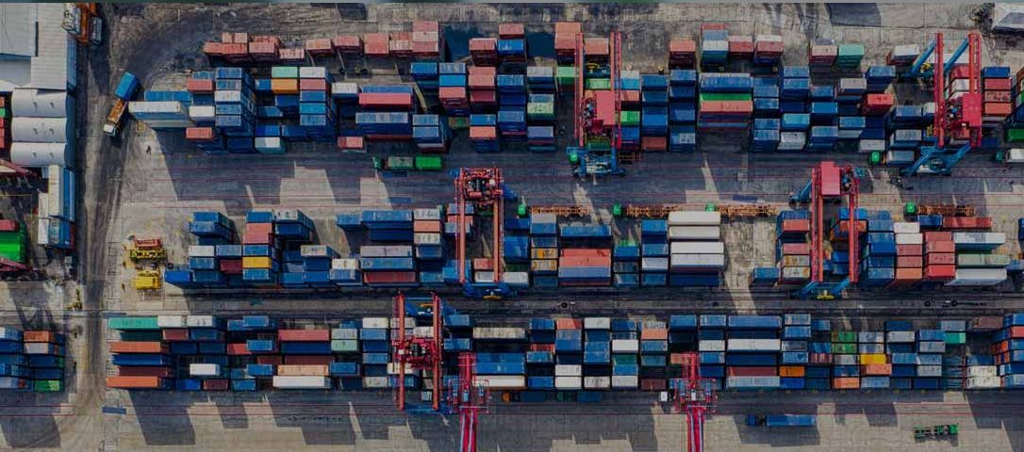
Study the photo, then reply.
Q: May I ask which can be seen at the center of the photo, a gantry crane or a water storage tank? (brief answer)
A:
gantry crane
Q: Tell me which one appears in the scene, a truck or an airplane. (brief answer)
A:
truck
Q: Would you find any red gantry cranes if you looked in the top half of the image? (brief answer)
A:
Yes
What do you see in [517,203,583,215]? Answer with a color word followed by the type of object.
green vehicle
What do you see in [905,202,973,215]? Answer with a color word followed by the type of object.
green vehicle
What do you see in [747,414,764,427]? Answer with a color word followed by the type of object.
blue vehicle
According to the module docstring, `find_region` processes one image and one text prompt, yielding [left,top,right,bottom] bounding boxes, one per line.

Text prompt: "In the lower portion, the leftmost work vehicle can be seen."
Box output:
[138,271,163,299]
